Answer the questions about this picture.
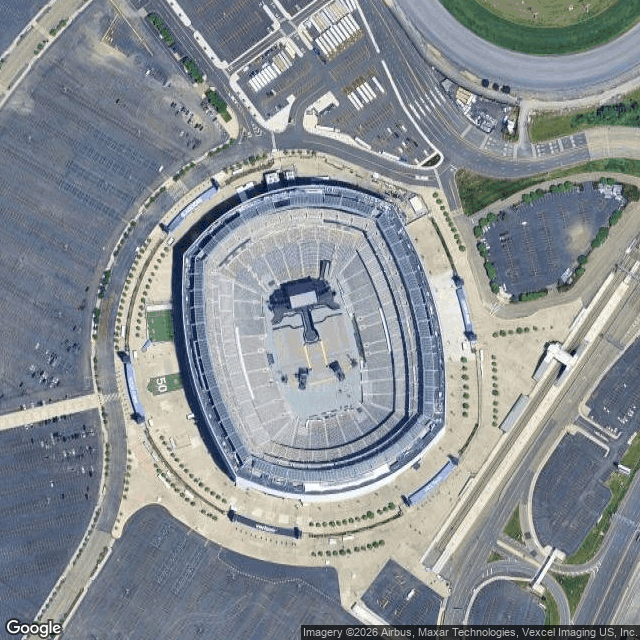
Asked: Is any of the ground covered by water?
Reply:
No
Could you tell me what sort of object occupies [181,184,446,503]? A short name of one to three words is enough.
stadium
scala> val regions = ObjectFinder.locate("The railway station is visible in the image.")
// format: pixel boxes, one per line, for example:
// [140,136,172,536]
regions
[534,337,589,386]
